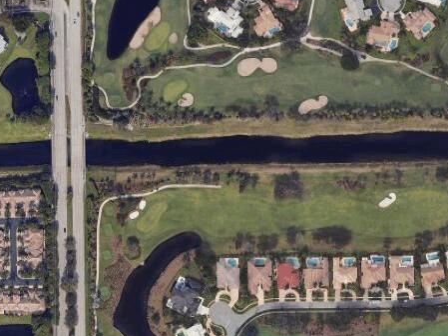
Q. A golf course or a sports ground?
golf course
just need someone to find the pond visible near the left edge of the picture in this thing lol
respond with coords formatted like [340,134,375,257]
[0,58,38,116]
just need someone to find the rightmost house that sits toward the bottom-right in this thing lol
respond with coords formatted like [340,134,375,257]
[420,266,448,292]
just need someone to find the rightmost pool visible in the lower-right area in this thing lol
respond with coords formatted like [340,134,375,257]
[426,251,442,264]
